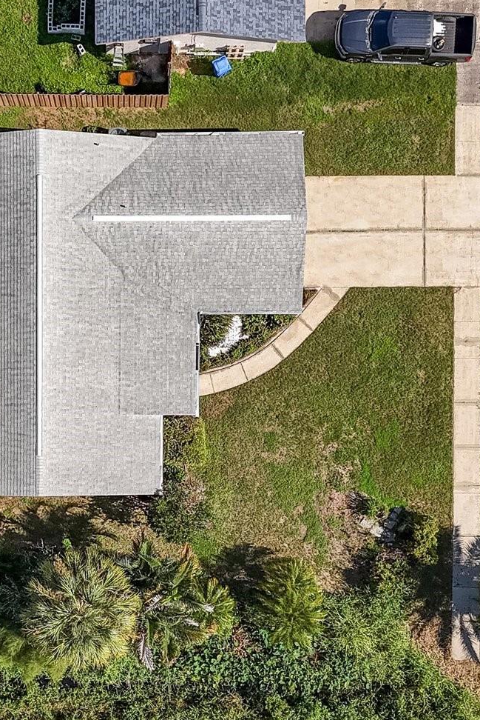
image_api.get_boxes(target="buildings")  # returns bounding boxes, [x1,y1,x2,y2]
[94,0,307,53]
[0,126,309,499]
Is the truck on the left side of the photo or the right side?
right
